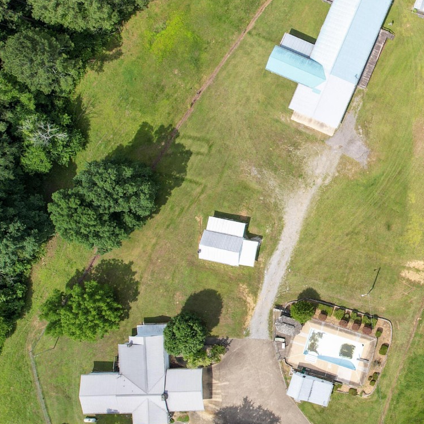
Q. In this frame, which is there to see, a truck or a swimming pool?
swimming pool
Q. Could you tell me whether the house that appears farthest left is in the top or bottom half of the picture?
bottom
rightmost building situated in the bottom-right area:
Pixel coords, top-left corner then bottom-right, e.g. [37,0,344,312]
[289,371,334,406]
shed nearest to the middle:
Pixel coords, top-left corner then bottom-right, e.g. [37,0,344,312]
[198,216,260,267]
